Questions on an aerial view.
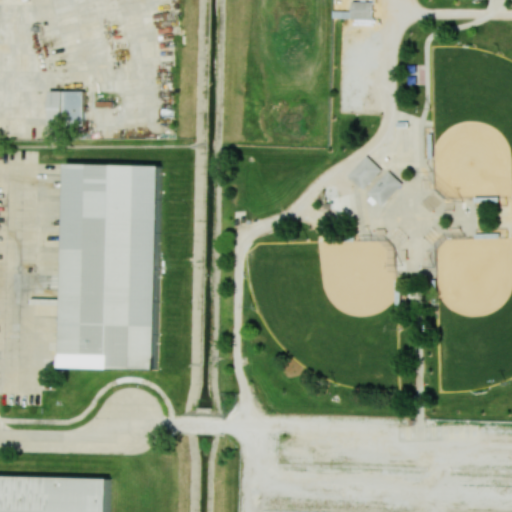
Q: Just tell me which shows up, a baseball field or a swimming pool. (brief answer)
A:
baseball field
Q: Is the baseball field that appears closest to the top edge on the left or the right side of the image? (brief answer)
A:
right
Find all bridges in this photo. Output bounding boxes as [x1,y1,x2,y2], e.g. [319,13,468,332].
[184,408,226,434]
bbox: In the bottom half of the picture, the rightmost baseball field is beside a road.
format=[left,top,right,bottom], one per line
[438,240,512,393]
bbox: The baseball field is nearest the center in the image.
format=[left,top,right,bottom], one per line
[246,240,402,392]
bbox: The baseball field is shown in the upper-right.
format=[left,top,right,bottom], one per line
[432,45,512,198]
